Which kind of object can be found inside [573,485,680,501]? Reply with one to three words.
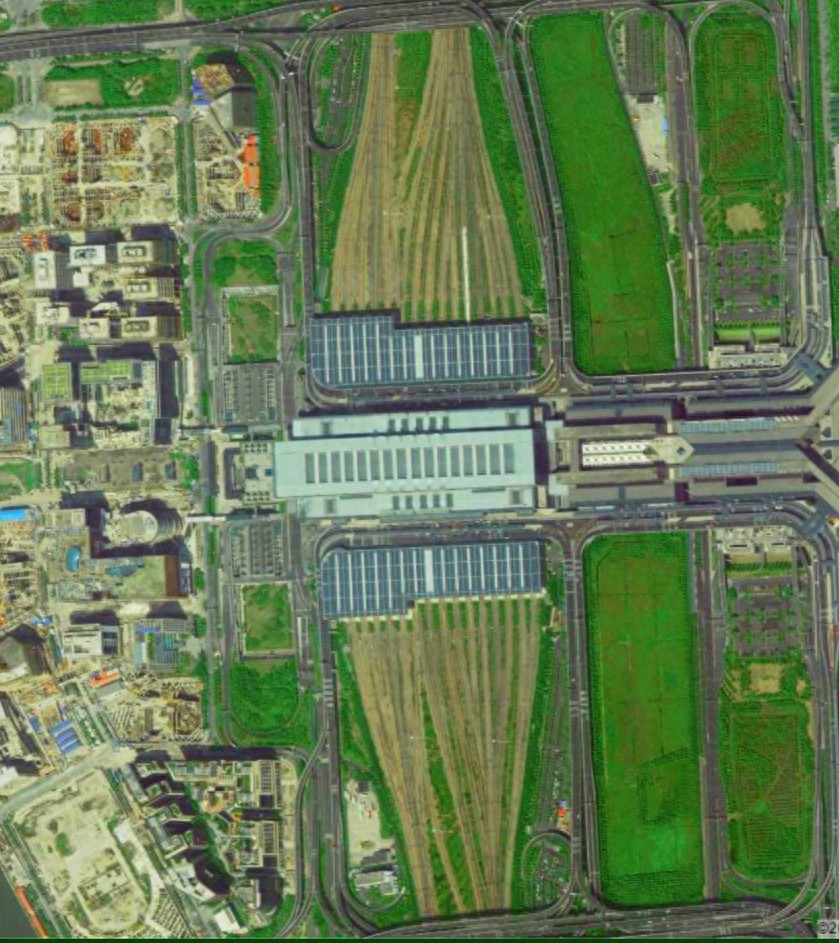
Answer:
building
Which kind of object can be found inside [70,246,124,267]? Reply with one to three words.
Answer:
building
